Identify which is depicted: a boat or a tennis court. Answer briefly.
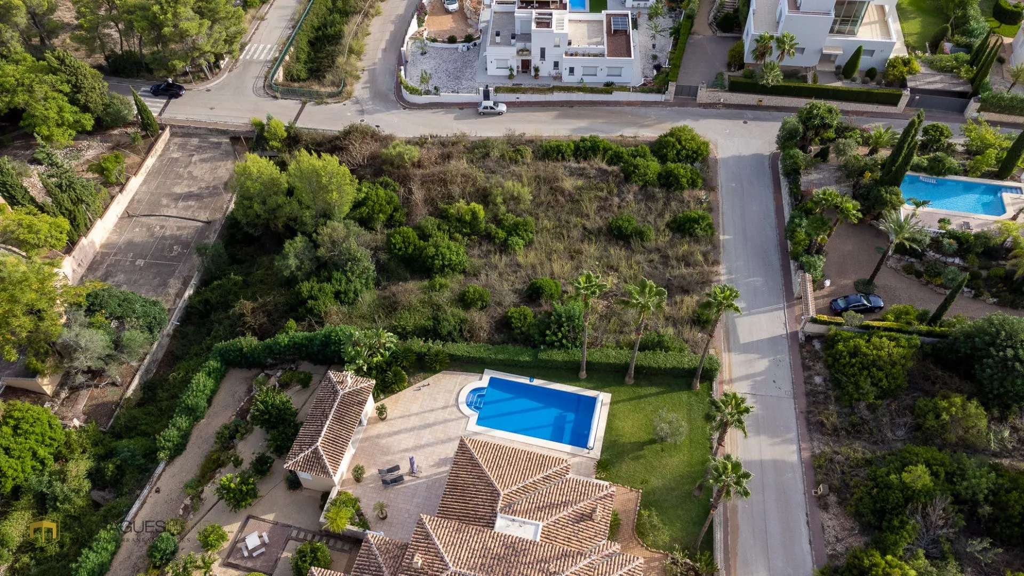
tennis court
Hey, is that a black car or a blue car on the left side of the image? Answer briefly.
black car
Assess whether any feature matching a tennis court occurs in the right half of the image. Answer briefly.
No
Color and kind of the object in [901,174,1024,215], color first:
blue swimming pool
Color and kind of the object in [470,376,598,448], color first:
blue swimming pool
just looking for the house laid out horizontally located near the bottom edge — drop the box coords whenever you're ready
[304,435,655,576]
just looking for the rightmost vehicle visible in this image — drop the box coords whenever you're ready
[829,291,884,314]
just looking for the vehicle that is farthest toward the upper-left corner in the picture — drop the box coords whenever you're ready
[148,81,186,98]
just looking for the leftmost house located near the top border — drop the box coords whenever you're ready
[486,0,633,82]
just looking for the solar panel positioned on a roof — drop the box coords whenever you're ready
[610,17,629,33]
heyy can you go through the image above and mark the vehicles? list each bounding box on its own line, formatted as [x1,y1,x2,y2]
[476,100,506,115]
[148,81,186,98]
[443,0,458,11]
[829,291,884,314]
